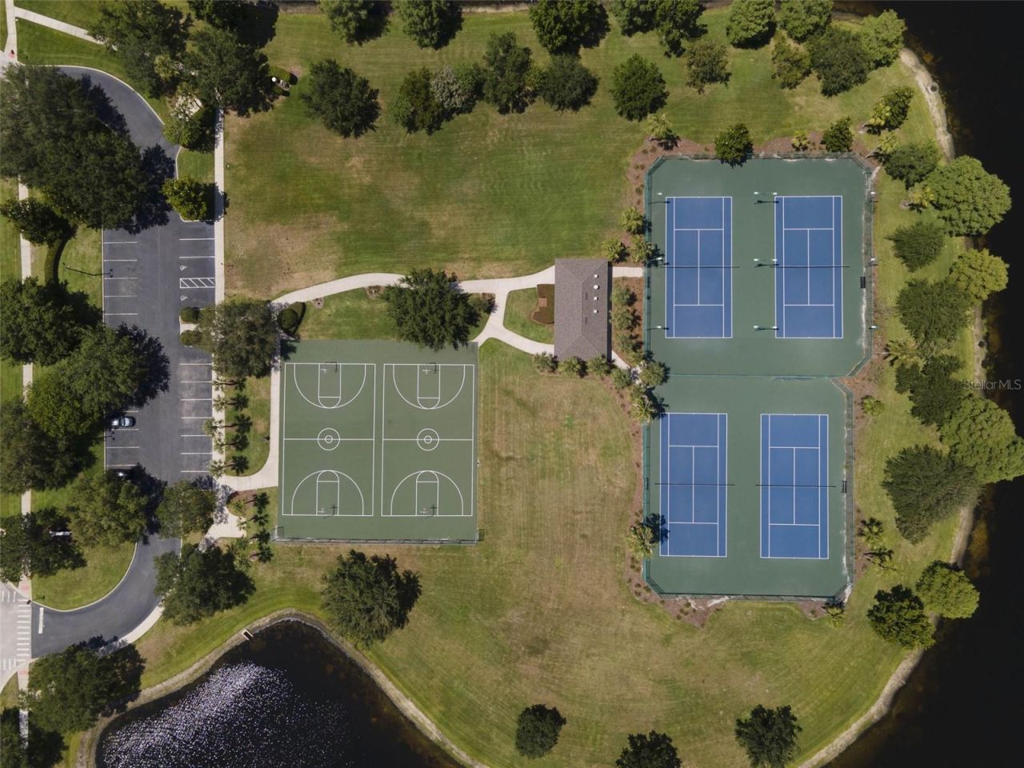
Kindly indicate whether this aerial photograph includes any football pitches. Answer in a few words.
No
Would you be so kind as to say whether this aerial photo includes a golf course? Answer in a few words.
No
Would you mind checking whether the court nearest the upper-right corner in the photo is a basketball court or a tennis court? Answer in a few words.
tennis court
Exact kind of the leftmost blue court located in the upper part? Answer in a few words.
tennis court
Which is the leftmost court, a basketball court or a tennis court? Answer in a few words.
basketball court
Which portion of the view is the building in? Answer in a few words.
center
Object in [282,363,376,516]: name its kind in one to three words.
basketball court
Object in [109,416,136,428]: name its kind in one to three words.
vehicle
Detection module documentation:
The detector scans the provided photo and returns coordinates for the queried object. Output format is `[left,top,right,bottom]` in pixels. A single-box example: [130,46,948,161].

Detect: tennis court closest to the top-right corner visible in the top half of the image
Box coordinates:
[770,196,850,338]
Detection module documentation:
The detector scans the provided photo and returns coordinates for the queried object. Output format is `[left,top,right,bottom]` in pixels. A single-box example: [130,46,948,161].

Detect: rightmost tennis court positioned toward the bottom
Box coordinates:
[756,414,837,559]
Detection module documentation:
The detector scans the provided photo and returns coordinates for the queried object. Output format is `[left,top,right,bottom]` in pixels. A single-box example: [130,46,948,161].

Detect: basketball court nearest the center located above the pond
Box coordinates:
[381,364,474,517]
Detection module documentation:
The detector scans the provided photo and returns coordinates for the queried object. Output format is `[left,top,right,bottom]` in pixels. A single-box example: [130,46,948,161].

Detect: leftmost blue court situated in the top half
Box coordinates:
[661,196,739,338]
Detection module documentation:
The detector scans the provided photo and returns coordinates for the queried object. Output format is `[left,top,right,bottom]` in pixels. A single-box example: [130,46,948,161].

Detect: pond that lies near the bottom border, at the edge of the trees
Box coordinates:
[97,619,467,768]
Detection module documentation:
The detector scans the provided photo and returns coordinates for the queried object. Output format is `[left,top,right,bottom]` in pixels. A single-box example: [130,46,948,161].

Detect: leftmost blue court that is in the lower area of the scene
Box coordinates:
[655,413,734,557]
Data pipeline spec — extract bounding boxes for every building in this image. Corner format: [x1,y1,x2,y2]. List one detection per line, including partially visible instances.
[555,259,608,359]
